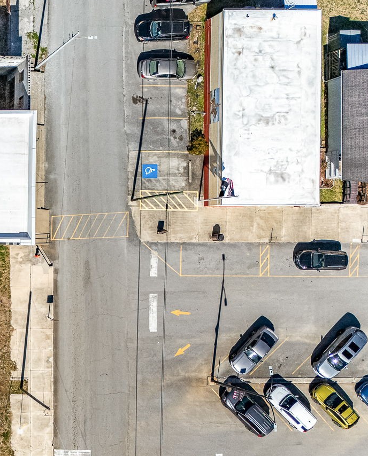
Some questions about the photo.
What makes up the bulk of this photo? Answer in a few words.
paved ground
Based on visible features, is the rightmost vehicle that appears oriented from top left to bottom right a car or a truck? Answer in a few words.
car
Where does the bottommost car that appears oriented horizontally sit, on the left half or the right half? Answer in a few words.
right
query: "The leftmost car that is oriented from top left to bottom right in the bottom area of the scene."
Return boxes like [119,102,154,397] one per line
[216,381,275,437]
